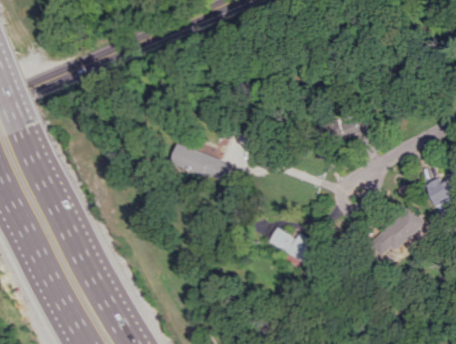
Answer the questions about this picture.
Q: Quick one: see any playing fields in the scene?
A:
No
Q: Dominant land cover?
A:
trees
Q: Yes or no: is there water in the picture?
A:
No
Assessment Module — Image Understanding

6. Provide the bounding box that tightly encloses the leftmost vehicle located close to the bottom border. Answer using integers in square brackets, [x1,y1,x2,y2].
[116,314,136,344]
